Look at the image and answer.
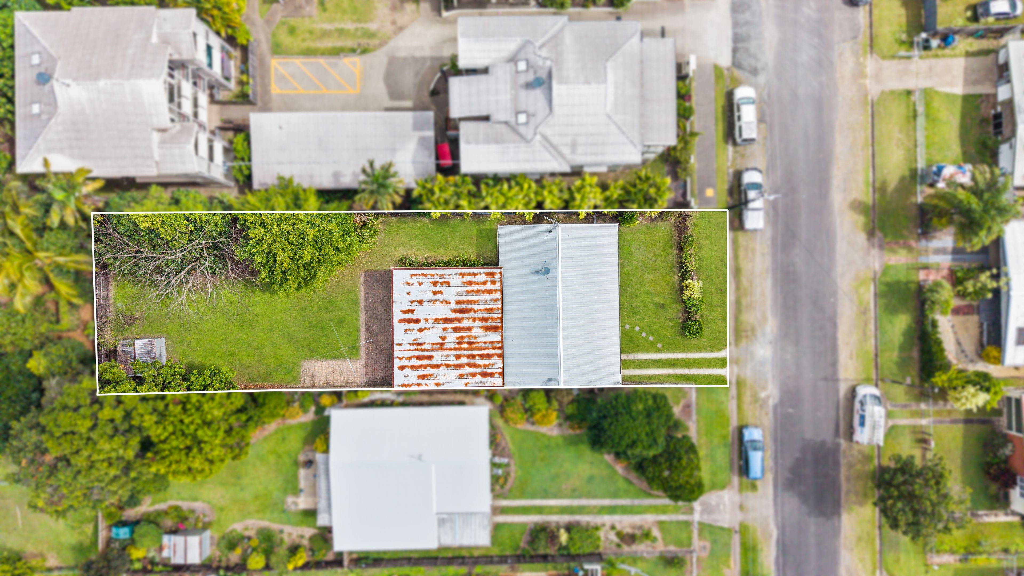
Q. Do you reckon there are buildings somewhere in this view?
Yes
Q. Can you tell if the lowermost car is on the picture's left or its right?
right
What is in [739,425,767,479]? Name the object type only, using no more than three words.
car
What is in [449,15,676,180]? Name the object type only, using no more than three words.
house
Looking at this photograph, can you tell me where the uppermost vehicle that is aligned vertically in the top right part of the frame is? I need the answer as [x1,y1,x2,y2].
[730,86,759,146]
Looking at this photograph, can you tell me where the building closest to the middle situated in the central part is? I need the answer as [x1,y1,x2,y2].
[497,223,622,388]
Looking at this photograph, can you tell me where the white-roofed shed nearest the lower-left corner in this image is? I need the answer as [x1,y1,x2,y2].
[162,528,212,564]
